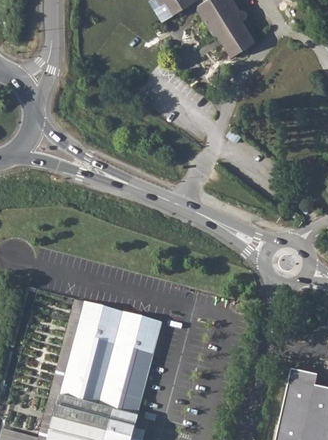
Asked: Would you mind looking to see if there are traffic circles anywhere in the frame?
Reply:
Yes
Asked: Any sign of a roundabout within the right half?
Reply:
Yes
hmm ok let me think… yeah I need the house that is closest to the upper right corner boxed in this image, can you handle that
[196,0,256,56]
